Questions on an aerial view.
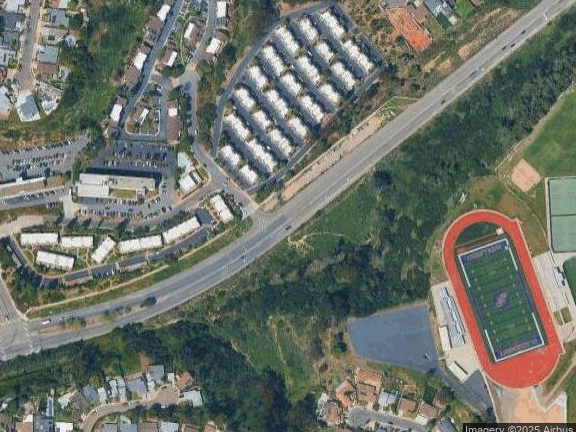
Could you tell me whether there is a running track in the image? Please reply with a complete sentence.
Yes, the frame does contain a running track.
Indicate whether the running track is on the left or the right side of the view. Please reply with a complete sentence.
You can find the running track on the right side of the picture.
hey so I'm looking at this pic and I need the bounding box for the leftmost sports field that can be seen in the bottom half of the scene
[455,222,548,364]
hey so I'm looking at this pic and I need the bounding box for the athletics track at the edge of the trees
[441,209,565,390]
